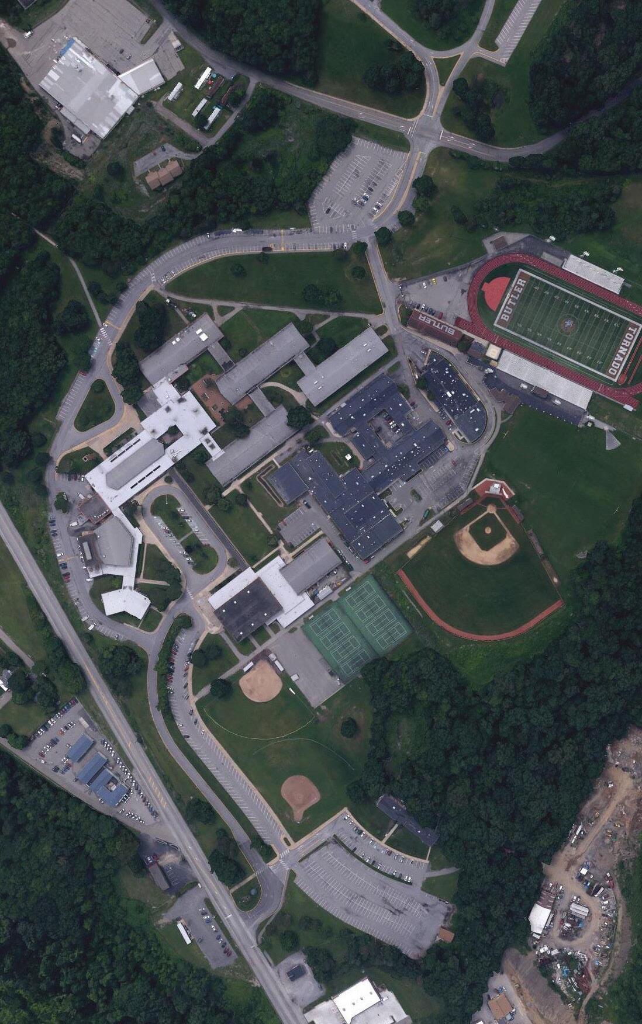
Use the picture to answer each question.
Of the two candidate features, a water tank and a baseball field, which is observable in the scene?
baseball field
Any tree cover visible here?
Yes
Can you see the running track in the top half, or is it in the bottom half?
top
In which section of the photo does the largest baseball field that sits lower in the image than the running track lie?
right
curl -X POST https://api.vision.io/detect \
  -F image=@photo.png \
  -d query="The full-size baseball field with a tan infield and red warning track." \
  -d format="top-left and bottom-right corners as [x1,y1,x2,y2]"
[397,479,564,641]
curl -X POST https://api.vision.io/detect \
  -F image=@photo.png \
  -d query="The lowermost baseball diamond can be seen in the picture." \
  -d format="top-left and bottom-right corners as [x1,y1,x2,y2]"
[281,775,321,823]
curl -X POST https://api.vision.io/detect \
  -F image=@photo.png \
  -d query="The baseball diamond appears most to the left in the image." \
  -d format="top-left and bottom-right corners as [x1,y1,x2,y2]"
[239,659,283,702]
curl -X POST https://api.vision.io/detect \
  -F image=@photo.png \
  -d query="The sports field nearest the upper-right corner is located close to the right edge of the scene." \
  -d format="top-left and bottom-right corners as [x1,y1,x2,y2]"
[480,264,642,386]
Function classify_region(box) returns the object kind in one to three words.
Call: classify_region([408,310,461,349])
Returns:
building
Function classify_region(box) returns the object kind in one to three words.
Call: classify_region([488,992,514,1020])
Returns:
house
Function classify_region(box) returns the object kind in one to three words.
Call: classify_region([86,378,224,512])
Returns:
building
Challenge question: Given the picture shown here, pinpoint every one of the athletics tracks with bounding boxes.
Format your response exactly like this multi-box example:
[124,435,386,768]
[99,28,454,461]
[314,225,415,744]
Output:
[454,253,642,409]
